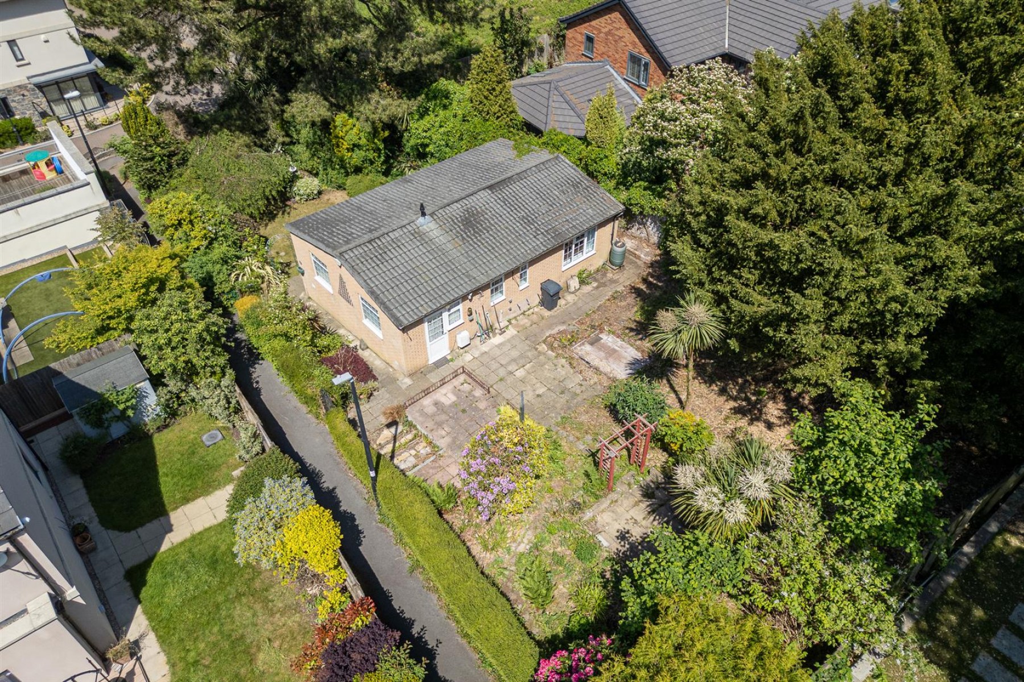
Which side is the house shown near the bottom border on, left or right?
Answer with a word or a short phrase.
left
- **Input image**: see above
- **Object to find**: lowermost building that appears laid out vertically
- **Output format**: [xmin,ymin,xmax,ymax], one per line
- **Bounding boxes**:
[0,415,114,682]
